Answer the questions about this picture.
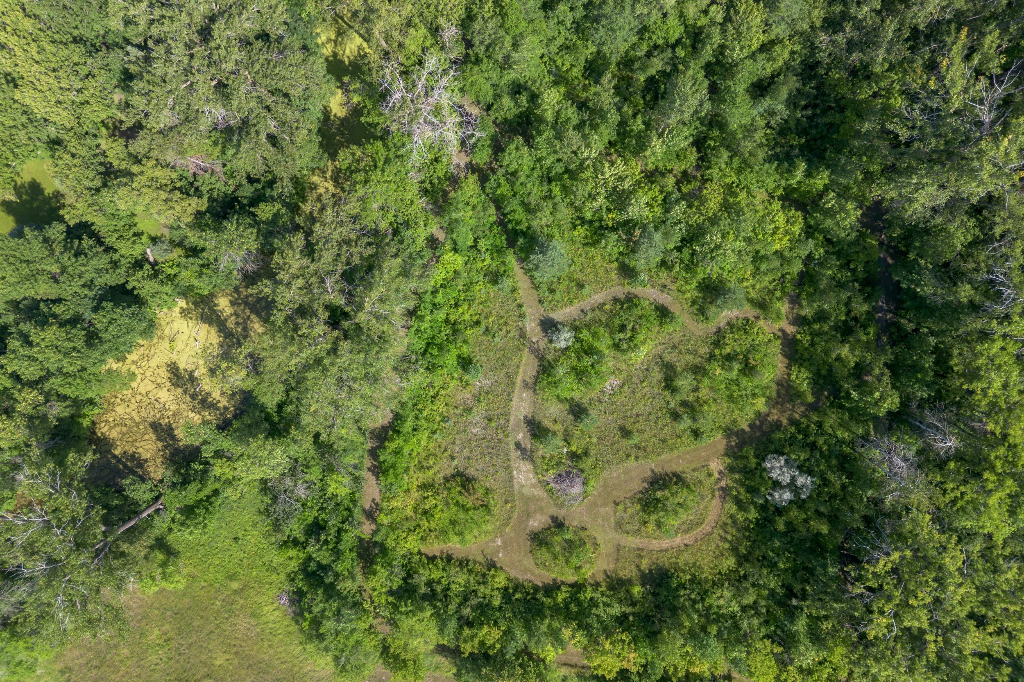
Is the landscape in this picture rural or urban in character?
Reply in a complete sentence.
From above, the setting appears rural.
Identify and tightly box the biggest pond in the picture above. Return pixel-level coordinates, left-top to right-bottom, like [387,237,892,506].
[81,261,296,494]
